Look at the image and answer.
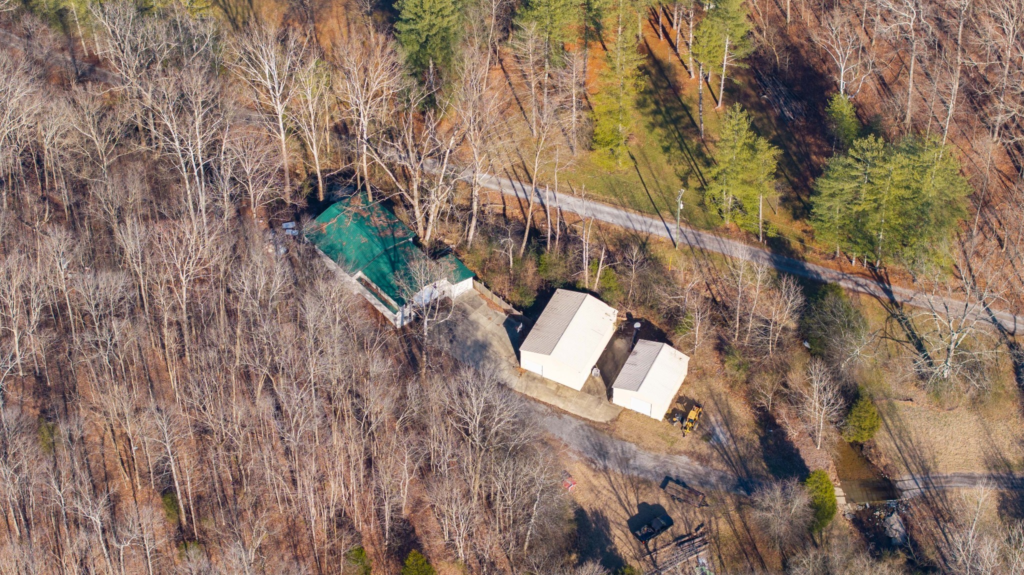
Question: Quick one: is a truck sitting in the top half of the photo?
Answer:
No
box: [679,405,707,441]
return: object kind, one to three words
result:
work vehicle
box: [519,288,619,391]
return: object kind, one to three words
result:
shed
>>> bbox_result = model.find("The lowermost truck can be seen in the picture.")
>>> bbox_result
[632,514,674,544]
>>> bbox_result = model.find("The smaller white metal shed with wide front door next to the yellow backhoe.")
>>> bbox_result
[611,340,690,422]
